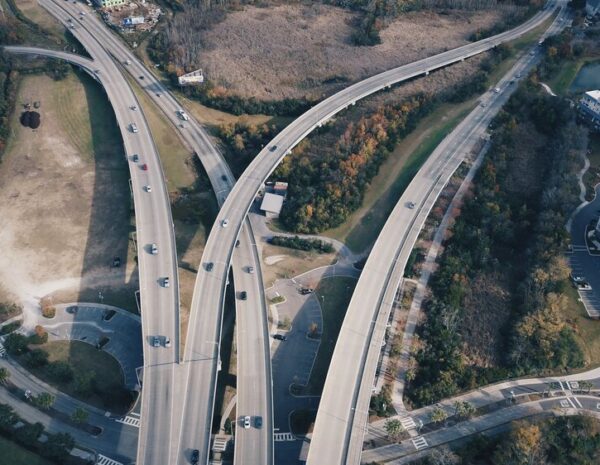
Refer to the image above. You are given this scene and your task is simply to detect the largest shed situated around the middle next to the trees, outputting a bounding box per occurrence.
[259,193,285,217]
